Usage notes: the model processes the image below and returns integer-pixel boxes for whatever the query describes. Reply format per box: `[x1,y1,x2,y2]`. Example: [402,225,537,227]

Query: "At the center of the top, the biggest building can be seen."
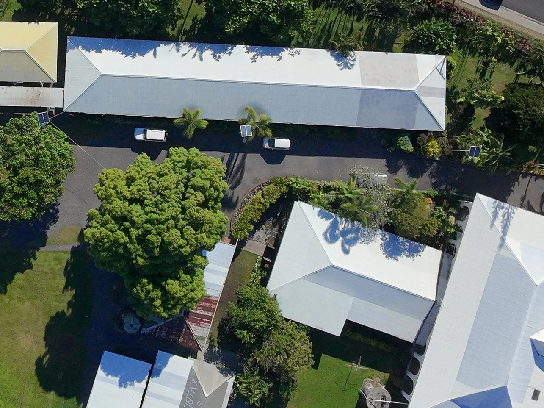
[63,35,447,132]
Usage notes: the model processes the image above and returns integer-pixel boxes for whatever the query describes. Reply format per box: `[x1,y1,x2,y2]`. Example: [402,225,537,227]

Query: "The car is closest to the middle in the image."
[263,138,290,151]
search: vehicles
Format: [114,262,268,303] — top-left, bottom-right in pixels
[263,138,290,151]
[134,127,167,143]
